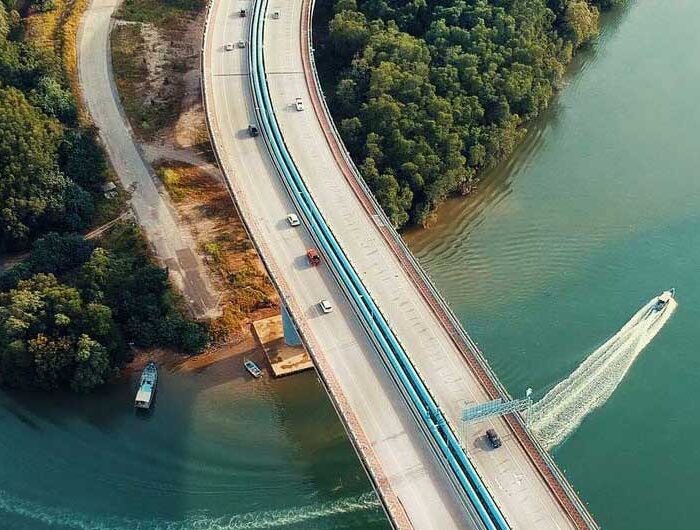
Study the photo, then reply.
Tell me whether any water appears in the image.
Yes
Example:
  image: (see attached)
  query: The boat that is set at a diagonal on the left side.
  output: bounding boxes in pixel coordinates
[246,354,262,377]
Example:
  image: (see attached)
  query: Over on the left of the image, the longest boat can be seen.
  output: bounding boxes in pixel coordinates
[137,359,155,409]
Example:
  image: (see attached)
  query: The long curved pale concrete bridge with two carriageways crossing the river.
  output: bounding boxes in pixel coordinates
[200,0,606,530]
